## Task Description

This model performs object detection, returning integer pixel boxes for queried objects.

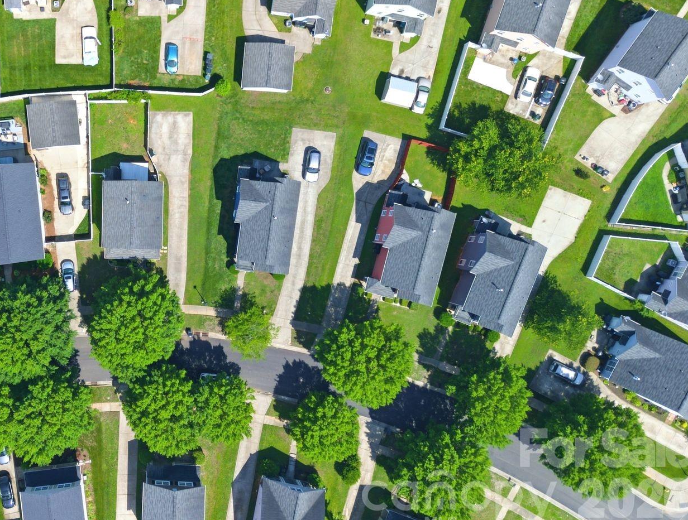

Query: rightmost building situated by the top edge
[586,7,688,104]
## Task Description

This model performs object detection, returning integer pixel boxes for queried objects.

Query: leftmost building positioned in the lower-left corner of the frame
[19,461,87,520]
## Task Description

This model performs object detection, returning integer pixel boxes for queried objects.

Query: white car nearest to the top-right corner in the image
[516,65,541,104]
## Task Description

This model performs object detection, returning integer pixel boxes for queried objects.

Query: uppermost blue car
[164,42,179,75]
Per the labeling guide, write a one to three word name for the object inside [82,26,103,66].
truck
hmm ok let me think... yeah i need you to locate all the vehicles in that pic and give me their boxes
[59,259,76,292]
[412,77,431,113]
[0,472,16,508]
[304,148,321,182]
[547,360,584,385]
[56,174,74,215]
[355,137,378,179]
[533,74,557,109]
[516,65,541,104]
[164,42,179,75]
[0,436,11,463]
[82,26,103,66]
